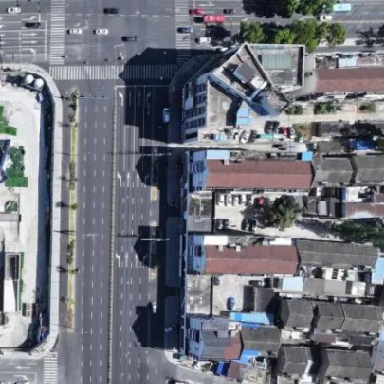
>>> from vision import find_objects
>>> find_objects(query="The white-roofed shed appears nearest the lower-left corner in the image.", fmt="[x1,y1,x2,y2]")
[2,279,18,313]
